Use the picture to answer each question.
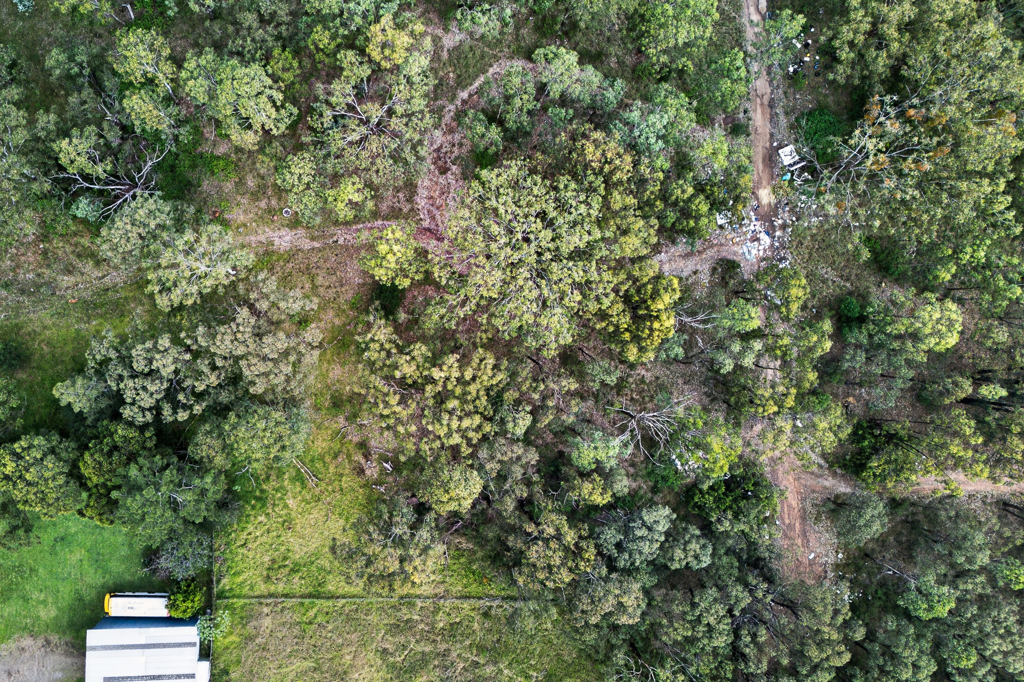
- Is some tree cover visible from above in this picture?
Yes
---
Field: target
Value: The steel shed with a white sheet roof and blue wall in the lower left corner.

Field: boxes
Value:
[84,609,215,682]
